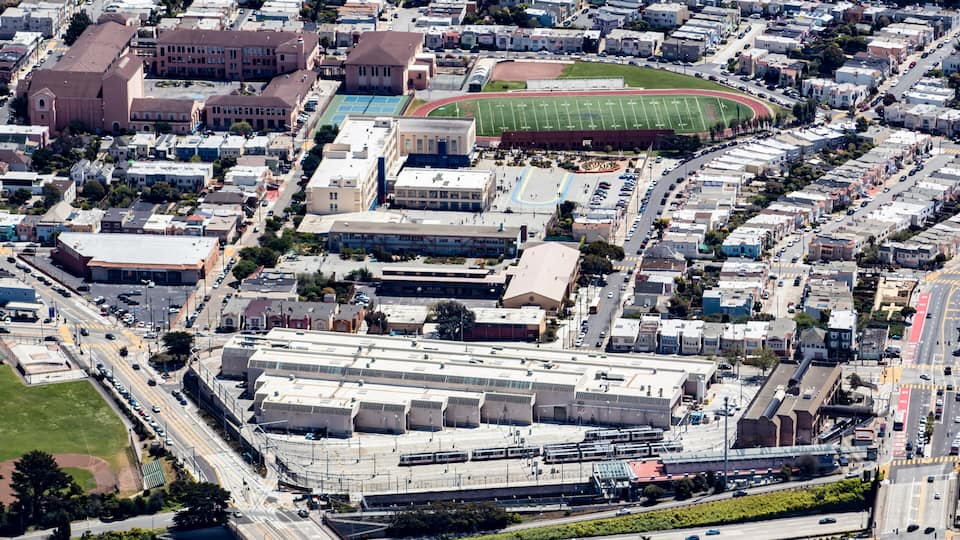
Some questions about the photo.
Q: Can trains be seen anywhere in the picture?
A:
Yes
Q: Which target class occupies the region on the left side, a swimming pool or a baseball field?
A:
baseball field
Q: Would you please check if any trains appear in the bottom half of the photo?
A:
Yes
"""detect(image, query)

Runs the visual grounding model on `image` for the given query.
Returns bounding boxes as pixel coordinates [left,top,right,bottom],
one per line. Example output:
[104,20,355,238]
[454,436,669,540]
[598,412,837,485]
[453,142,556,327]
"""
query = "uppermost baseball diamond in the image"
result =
[497,58,574,81]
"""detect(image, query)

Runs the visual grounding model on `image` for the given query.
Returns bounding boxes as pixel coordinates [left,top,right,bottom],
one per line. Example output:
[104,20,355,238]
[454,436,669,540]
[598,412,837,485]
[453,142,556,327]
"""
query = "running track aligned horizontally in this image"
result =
[407,90,774,142]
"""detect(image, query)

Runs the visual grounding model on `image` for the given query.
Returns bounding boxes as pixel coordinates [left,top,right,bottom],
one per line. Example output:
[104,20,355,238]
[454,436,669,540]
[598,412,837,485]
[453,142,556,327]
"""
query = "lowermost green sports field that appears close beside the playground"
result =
[430,97,750,135]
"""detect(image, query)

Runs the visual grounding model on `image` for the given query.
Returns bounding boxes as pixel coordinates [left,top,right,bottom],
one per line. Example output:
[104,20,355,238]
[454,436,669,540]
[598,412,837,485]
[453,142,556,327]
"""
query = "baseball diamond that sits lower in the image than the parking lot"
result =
[0,363,138,497]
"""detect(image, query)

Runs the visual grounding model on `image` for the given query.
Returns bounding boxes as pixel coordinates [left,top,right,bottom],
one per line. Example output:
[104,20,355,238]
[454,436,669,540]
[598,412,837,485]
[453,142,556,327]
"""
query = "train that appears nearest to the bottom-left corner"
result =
[398,445,469,465]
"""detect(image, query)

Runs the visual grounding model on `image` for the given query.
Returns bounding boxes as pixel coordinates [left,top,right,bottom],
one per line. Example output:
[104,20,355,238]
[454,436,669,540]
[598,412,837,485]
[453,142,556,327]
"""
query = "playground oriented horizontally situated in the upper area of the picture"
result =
[475,158,596,213]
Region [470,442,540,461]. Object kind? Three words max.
train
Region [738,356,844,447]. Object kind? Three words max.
barn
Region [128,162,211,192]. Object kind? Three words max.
house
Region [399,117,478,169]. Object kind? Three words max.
building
